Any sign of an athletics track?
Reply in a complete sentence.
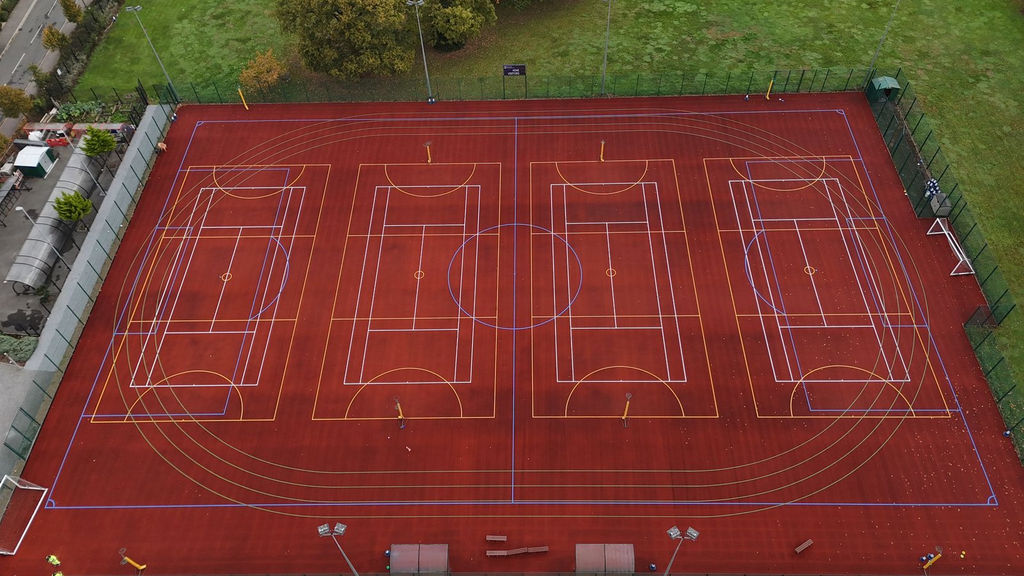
Yes, looking at the shot, I can spot an athletics track.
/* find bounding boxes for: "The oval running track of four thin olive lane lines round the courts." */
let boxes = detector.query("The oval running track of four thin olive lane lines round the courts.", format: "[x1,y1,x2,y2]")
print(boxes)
[113,109,930,518]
